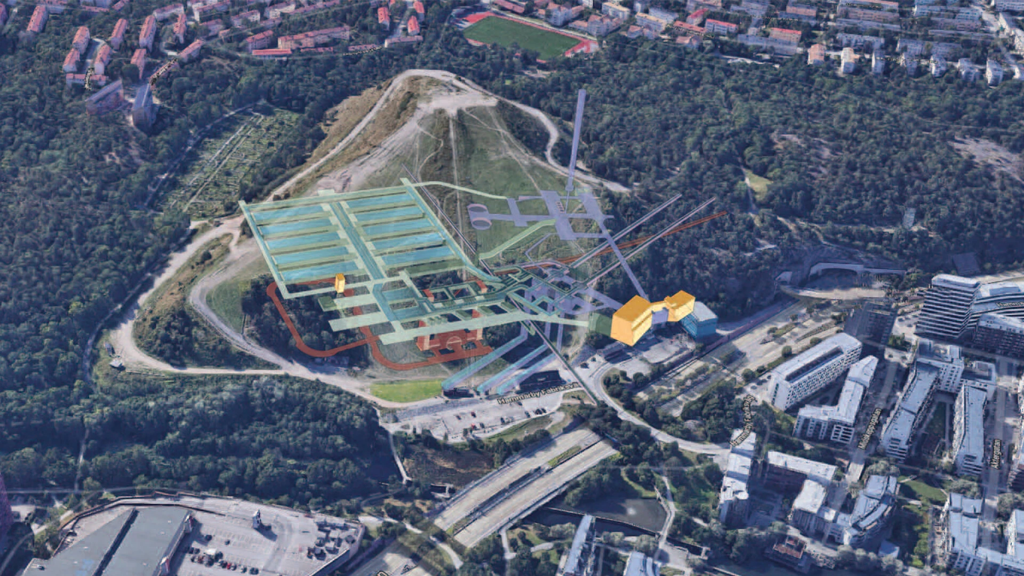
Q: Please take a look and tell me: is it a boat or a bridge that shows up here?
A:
bridge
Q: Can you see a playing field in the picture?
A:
Yes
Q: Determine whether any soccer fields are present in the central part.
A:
No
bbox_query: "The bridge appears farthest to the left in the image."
[431,425,620,550]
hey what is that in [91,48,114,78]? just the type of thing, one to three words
house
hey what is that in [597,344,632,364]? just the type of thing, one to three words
shed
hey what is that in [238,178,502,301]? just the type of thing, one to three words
building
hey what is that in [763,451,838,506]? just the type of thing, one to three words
building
